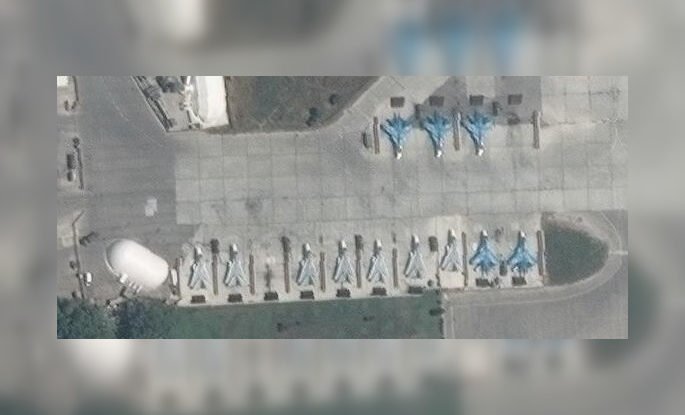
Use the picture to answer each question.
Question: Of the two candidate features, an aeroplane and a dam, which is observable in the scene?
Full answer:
It is an aeroplane that can be seen here.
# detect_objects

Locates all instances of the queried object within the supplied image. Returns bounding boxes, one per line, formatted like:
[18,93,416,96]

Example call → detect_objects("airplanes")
[463,110,493,155]
[508,232,538,276]
[227,245,246,287]
[423,113,453,157]
[443,231,462,273]
[189,246,209,288]
[470,229,500,276]
[299,244,318,286]
[370,240,389,282]
[335,240,355,284]
[407,236,426,278]
[383,114,413,159]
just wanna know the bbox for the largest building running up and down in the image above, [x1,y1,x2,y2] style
[192,4,227,129]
